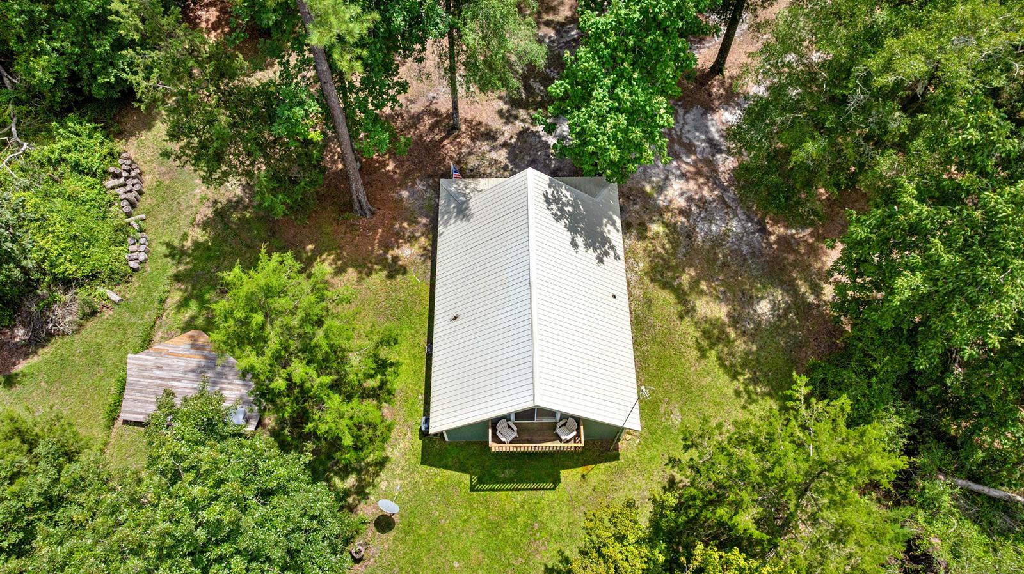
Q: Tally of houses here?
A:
1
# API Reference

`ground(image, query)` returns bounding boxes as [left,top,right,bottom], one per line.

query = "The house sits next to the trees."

[427,168,642,457]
